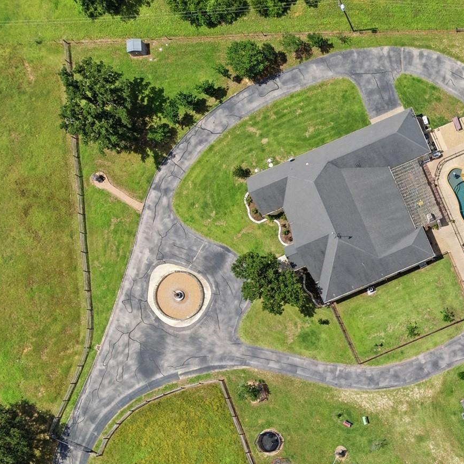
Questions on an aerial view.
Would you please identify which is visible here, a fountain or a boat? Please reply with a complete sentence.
The one in the frame is a fountain.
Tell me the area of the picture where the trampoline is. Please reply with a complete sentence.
The trampoline is in the bottom part of the image.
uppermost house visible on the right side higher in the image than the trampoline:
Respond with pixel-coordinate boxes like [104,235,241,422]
[249,107,435,304]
